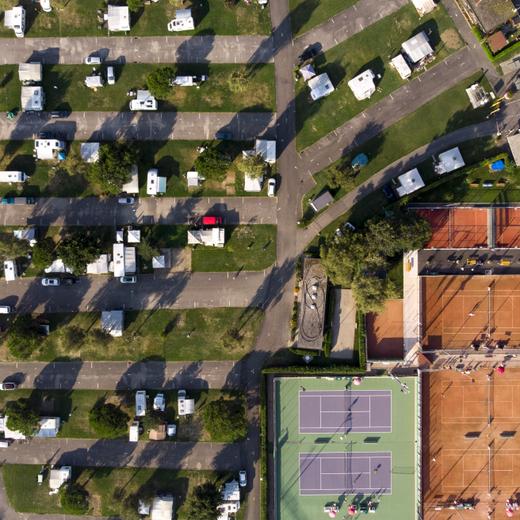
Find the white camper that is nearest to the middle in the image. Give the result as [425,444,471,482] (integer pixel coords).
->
[205,229,224,246]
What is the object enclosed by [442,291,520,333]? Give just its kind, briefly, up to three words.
tennis court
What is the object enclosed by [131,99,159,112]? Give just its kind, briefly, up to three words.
vehicle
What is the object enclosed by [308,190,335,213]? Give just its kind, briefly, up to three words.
shed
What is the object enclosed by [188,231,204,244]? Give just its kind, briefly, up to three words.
gazebo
